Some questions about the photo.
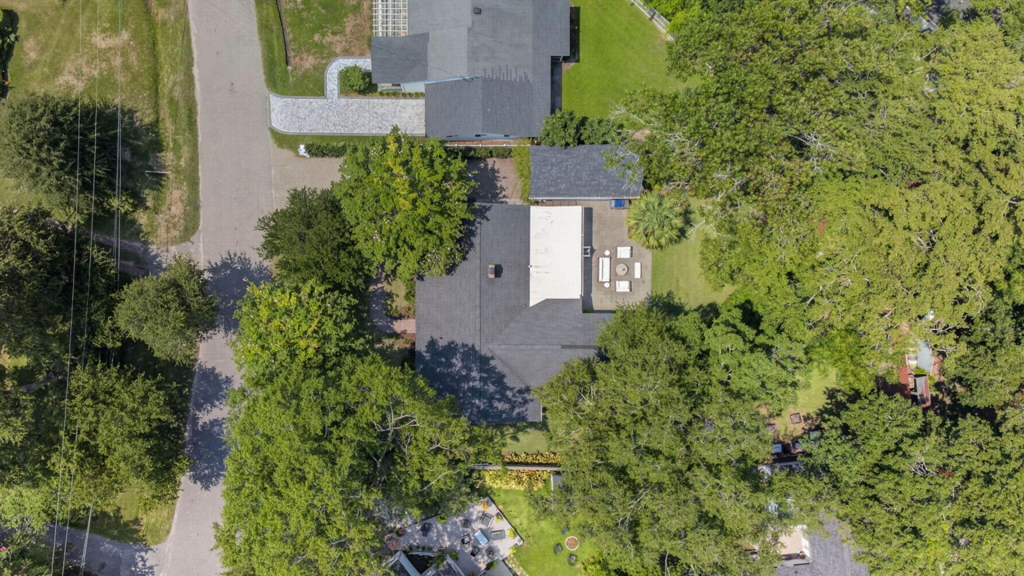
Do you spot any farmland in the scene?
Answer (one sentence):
No, the scene doesn't show any farmland.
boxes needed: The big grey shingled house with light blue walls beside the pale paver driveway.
[372,0,570,141]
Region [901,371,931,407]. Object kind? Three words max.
shed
